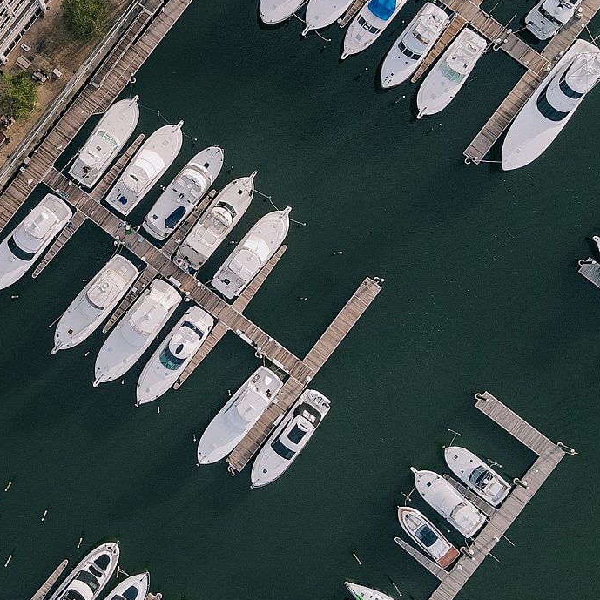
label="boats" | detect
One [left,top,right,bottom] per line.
[249,388,326,490]
[0,189,76,290]
[140,145,226,243]
[93,276,182,388]
[342,0,405,58]
[49,542,121,600]
[410,467,486,536]
[519,0,586,44]
[302,0,354,35]
[196,361,287,468]
[501,14,600,169]
[135,307,212,406]
[104,570,150,600]
[68,94,140,189]
[443,445,510,505]
[173,171,261,274]
[418,8,520,118]
[395,505,460,568]
[380,1,469,88]
[105,121,186,218]
[342,579,398,600]
[210,207,295,301]
[51,252,140,354]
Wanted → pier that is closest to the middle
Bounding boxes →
[33,133,381,470]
